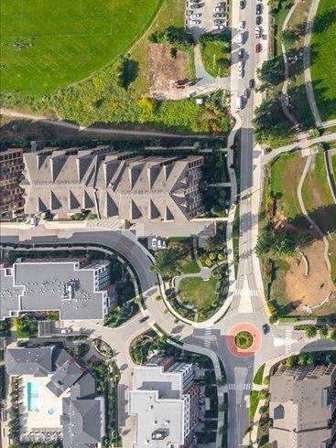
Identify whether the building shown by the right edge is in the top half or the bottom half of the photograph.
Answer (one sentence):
The building shown by the right edge is in the bottom half of the image.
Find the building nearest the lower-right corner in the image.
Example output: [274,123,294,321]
[269,360,336,448]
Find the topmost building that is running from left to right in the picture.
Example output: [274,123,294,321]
[21,148,203,224]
